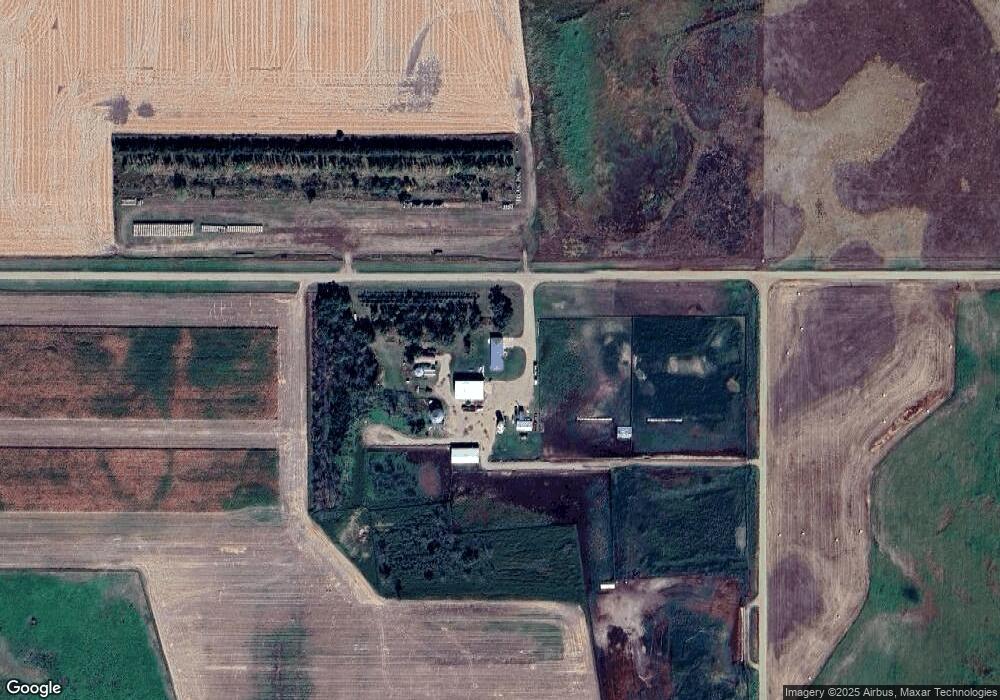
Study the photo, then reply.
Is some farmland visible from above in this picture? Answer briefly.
Yes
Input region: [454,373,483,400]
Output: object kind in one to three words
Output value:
barn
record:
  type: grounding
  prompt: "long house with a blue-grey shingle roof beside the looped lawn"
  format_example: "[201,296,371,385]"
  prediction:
[490,338,507,372]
